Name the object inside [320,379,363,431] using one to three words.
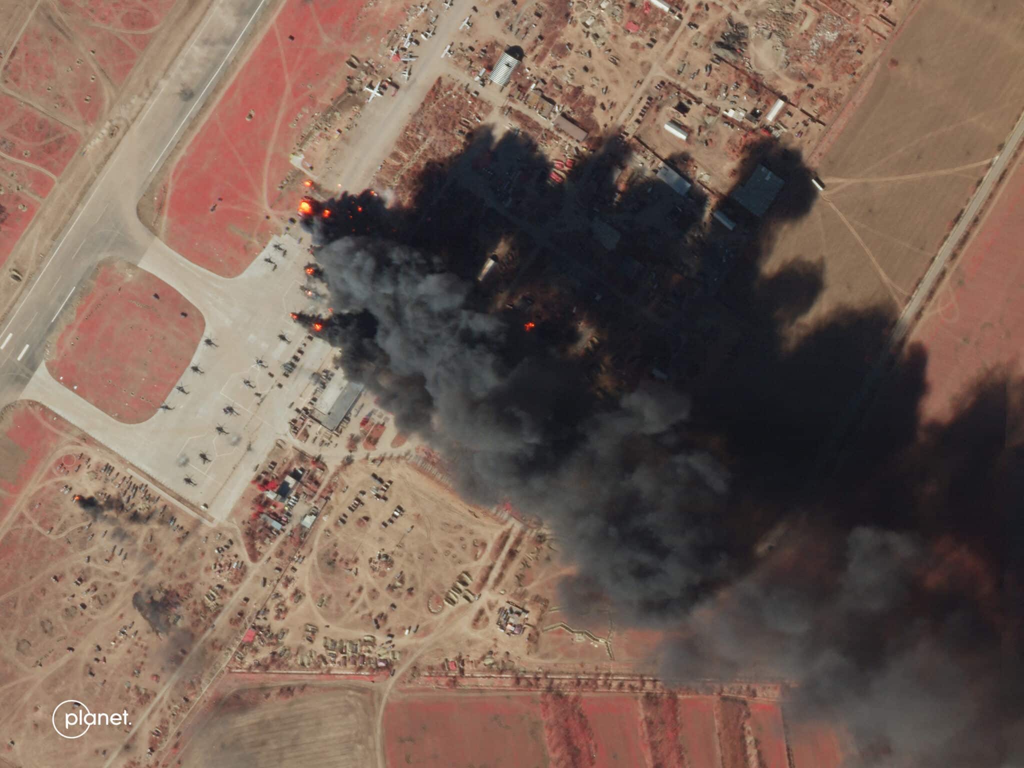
building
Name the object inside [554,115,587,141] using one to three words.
shed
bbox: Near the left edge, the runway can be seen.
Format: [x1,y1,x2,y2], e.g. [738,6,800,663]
[0,0,276,415]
